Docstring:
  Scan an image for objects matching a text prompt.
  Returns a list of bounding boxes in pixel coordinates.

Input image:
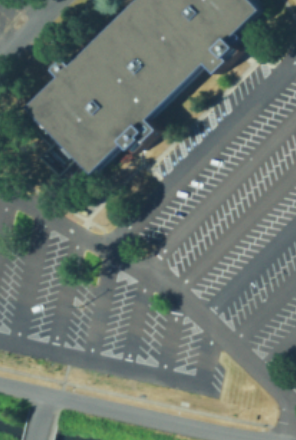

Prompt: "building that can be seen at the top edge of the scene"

[28,0,263,174]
